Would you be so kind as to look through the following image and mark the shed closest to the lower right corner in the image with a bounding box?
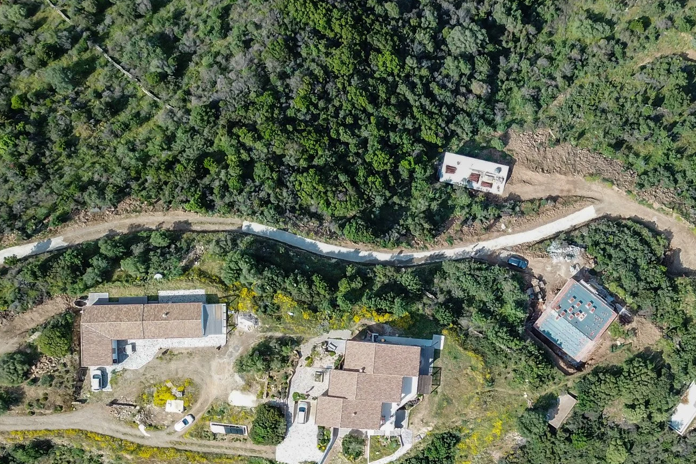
[667,380,696,435]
